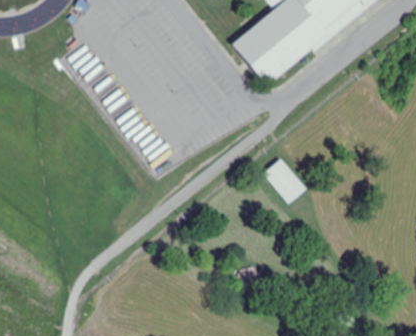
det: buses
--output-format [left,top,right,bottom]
[118,112,144,133]
[148,149,174,170]
[130,123,156,144]
[114,106,140,126]
[65,44,91,64]
[81,62,106,83]
[139,137,165,158]
[135,130,161,150]
[122,120,148,140]
[70,52,96,72]
[100,86,126,106]
[105,93,131,114]
[76,56,102,76]
[146,143,172,163]
[91,74,118,94]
